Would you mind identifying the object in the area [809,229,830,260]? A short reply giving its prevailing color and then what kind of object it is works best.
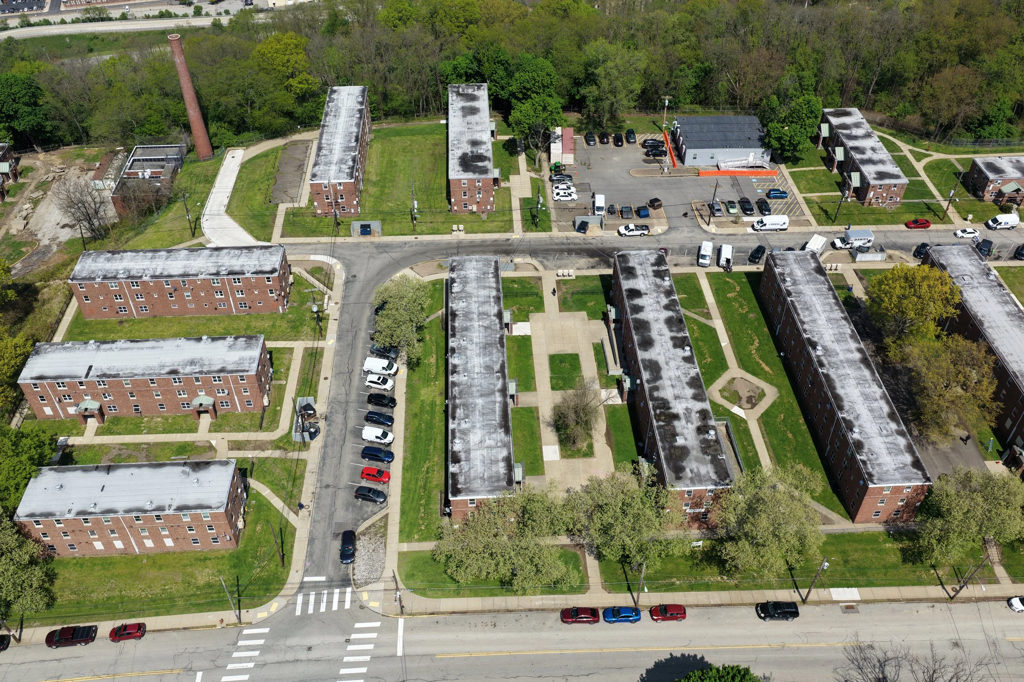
white truck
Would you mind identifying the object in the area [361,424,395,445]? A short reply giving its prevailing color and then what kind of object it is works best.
white vehicle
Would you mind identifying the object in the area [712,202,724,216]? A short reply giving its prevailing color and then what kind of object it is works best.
gray vehicle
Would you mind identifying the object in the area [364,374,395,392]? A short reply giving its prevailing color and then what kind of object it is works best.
white car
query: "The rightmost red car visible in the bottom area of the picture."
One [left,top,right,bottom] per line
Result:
[649,604,687,624]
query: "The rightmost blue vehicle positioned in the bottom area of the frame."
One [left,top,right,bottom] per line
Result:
[602,606,642,625]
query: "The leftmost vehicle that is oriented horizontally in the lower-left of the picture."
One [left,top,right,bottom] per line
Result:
[45,625,99,649]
